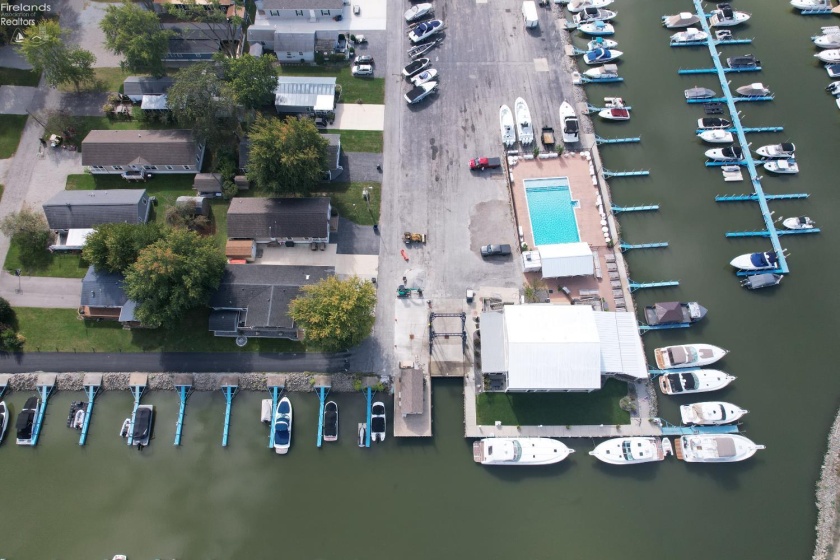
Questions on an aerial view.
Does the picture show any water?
Yes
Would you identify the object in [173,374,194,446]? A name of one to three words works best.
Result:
pier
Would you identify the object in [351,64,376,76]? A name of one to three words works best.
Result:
vehicle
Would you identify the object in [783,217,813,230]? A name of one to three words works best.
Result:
boat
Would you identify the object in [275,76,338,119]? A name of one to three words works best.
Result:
house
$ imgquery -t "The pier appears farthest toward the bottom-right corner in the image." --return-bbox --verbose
[661,421,742,438]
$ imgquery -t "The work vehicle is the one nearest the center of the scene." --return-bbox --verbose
[395,285,424,298]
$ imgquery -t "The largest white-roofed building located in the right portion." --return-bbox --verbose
[477,293,648,398]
